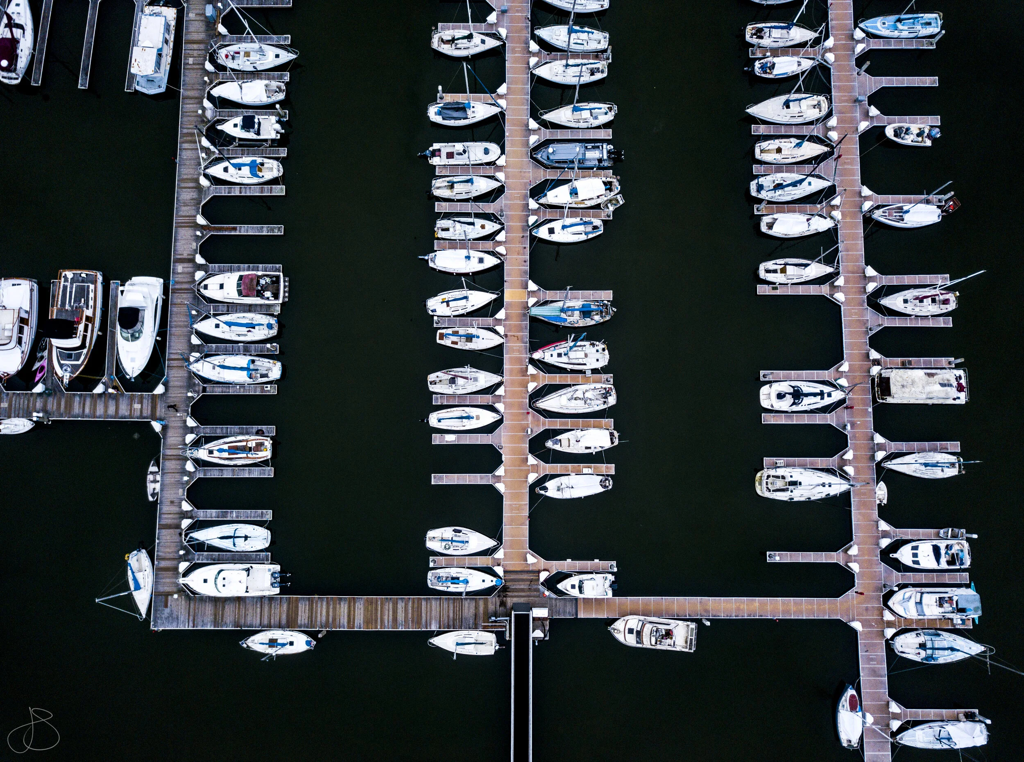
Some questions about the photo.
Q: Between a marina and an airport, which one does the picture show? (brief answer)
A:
marina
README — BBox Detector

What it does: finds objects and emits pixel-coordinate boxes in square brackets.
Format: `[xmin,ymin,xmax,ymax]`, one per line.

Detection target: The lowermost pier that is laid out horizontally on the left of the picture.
[150,571,578,640]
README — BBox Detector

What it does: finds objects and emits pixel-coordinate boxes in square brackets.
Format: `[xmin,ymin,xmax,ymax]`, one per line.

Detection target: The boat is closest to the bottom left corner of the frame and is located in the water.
[95,544,159,621]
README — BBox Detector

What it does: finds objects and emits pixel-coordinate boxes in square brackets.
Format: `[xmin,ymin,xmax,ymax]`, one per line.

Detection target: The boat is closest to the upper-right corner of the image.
[853,0,945,38]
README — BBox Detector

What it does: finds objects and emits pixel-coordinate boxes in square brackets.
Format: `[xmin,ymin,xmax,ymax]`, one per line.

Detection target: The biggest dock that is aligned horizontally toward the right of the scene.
[578,586,859,631]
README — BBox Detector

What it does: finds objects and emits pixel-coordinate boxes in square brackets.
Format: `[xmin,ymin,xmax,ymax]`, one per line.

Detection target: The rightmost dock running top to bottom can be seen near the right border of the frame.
[748,0,979,762]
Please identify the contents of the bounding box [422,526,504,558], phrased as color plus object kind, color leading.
white boat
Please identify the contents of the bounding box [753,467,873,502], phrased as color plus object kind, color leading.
white boat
